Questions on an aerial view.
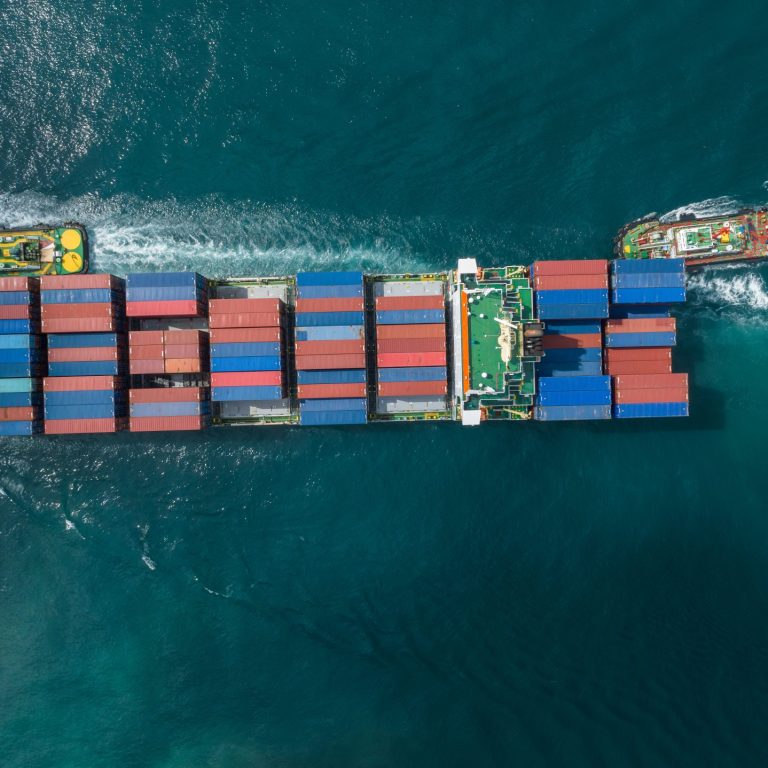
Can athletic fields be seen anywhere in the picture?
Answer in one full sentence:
No, no athletic field can be seen from above.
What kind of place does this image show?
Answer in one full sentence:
The picture captures a port.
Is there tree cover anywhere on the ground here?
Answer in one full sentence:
No, the scene doesn't show any tree cover.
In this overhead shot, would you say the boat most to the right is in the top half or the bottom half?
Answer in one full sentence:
The top half of the photo is where the boat most to the right is.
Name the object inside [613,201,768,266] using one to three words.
boat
